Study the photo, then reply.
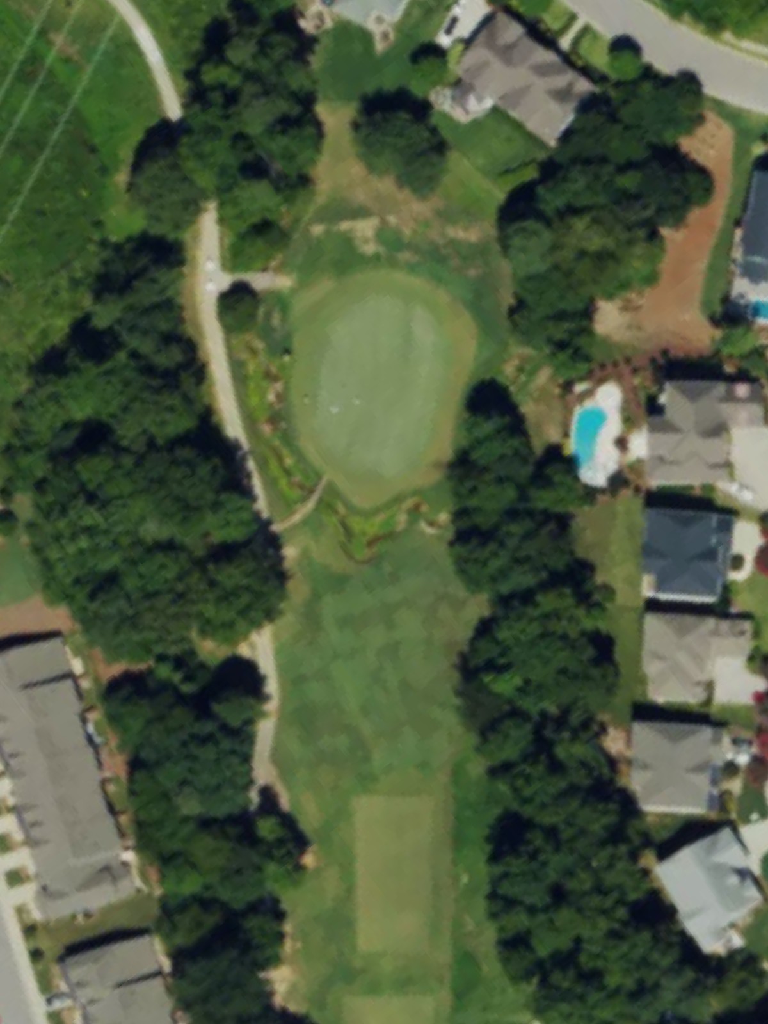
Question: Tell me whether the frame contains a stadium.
No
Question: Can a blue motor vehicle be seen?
No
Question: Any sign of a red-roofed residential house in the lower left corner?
No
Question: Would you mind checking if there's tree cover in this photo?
Yes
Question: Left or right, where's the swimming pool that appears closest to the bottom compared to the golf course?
on the right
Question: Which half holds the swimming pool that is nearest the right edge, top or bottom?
top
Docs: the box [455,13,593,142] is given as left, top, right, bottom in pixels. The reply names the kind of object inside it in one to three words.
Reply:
house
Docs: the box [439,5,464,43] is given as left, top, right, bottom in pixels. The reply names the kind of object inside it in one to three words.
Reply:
truck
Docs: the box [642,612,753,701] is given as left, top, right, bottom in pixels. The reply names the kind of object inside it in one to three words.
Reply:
house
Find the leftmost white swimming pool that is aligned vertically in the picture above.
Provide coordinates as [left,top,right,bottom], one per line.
[571,380,622,487]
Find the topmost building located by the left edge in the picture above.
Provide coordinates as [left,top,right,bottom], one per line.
[0,637,134,918]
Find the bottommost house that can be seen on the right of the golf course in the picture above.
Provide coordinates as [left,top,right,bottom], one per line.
[657,828,765,954]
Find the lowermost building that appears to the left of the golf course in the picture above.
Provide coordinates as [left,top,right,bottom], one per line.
[63,931,176,1024]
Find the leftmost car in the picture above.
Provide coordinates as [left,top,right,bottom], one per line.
[45,994,71,1010]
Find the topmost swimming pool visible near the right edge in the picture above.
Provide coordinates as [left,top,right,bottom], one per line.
[736,294,768,325]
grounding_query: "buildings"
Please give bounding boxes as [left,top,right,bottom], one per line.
[739,168,768,288]
[455,13,593,142]
[63,931,176,1024]
[324,0,412,30]
[657,828,765,954]
[642,612,753,701]
[0,637,134,918]
[644,510,733,603]
[632,722,724,813]
[648,381,765,485]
